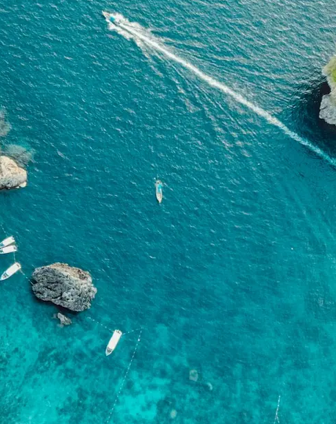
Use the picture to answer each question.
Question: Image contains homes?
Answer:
No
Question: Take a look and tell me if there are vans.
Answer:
No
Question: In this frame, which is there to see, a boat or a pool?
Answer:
boat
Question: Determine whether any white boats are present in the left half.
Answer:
Yes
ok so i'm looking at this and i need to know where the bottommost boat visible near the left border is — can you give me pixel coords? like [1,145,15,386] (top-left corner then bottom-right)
[0,261,22,279]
